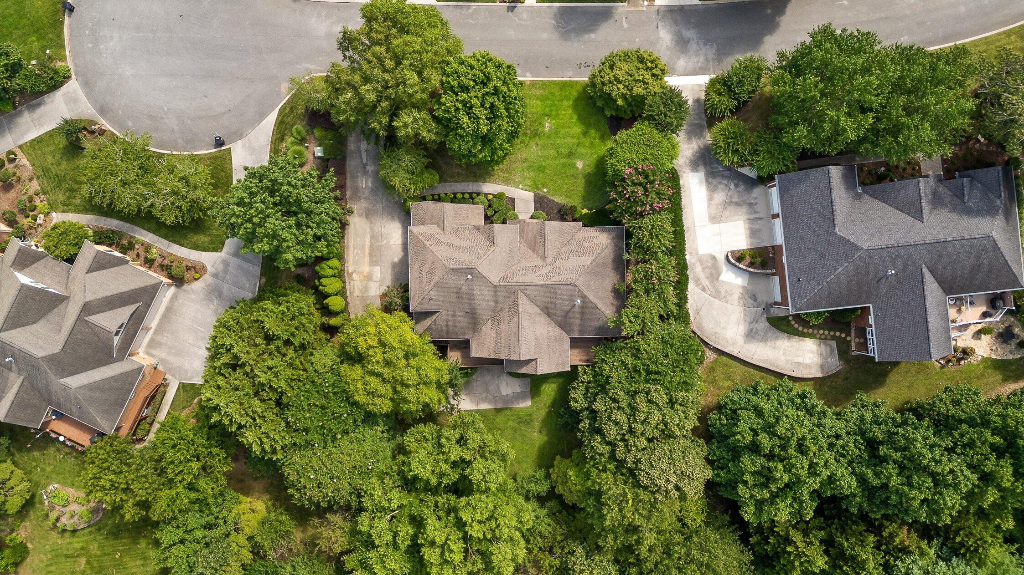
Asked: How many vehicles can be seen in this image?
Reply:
0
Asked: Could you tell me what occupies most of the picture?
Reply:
trees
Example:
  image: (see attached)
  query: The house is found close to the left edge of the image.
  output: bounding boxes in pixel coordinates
[0,236,172,451]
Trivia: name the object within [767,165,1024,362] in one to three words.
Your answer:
house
